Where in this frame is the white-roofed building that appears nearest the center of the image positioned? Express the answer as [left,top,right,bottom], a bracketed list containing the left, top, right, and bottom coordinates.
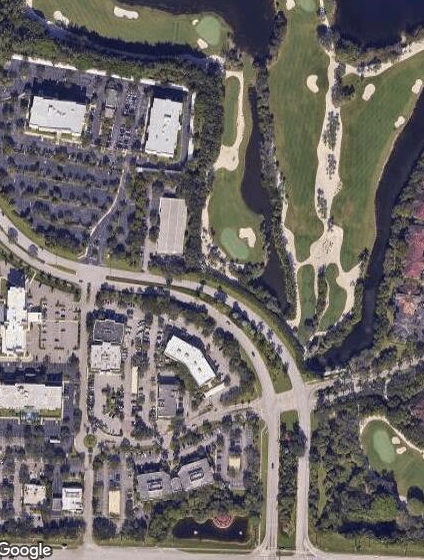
[165,336,216,387]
